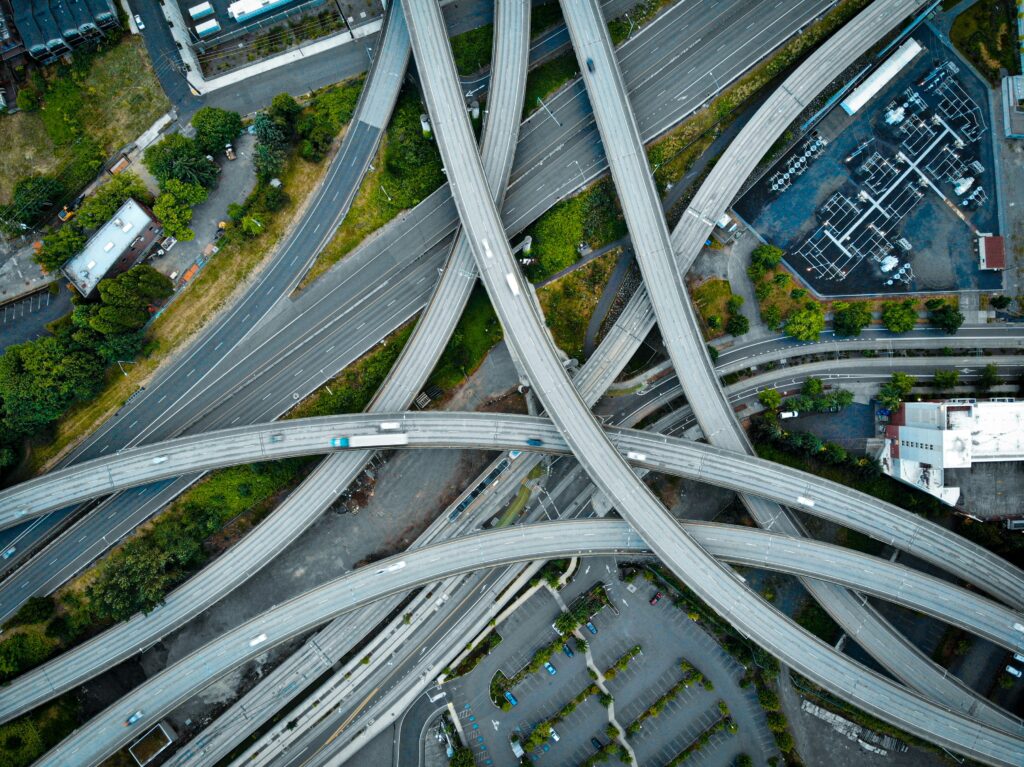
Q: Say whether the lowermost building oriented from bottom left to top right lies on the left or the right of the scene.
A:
left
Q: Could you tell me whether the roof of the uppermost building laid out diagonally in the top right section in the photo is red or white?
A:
white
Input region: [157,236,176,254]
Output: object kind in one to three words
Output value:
vehicle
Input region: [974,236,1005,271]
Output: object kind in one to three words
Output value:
building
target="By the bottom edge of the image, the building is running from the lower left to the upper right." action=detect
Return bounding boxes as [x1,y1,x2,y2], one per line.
[128,715,180,767]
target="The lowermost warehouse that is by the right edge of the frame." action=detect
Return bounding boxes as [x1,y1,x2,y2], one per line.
[875,398,1024,518]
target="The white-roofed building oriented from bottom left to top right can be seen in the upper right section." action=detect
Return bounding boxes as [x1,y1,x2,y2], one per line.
[836,38,922,117]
